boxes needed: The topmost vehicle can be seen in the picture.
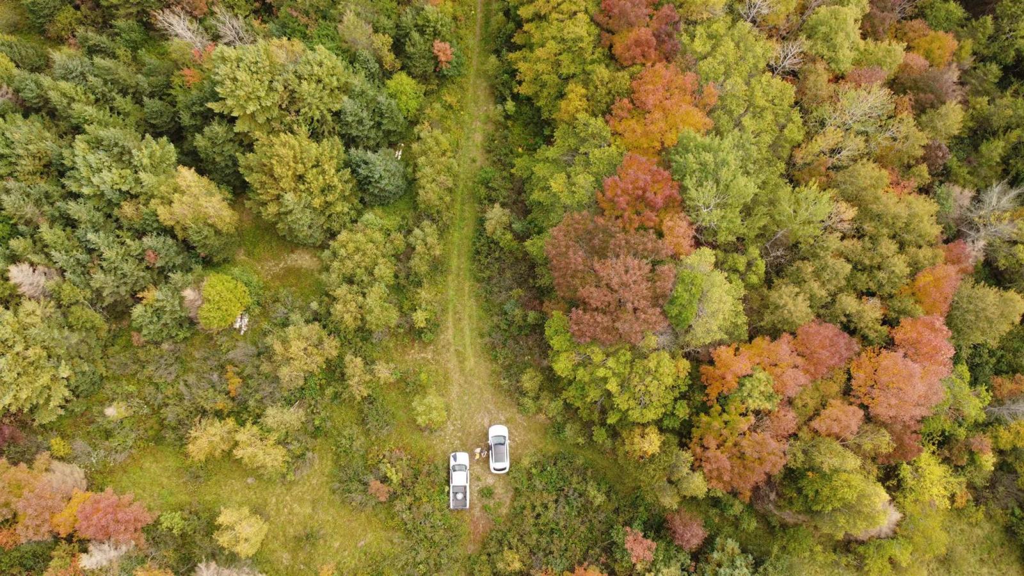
[487,424,510,474]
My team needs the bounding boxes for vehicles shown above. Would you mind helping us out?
[447,451,471,511]
[487,424,510,474]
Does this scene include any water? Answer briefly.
No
